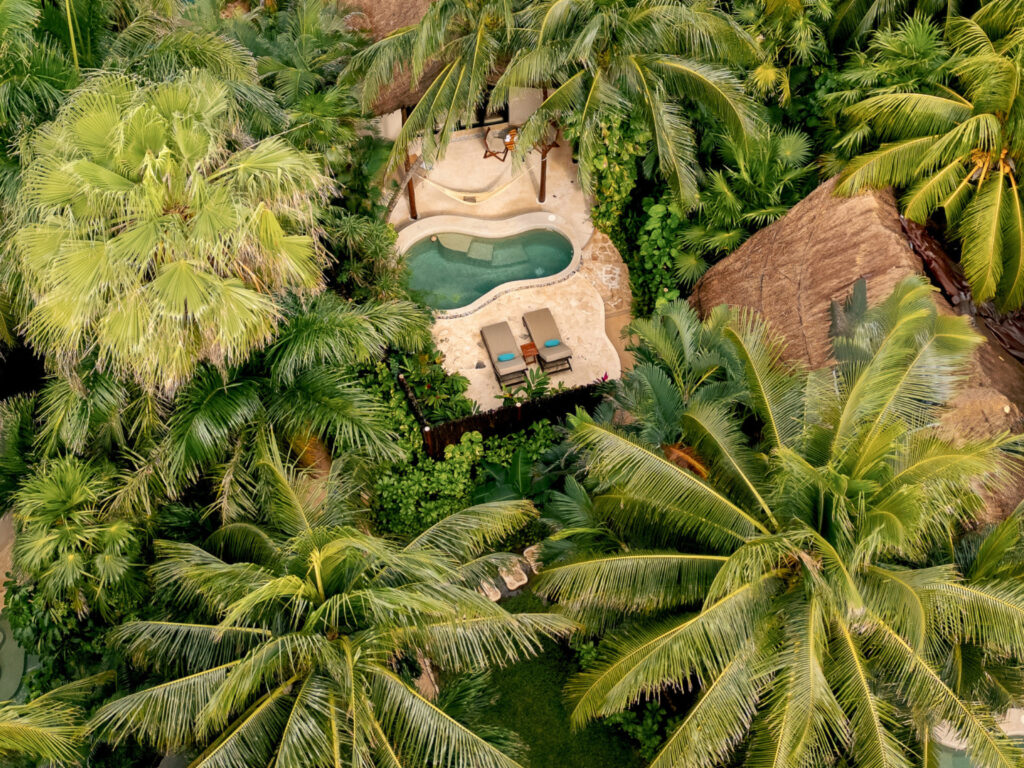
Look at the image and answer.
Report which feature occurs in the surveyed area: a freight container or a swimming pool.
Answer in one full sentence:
The one in the frame is a swimming pool.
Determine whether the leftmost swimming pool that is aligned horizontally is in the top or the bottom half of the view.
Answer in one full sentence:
You can find the leftmost swimming pool that is aligned horizontally in the top half.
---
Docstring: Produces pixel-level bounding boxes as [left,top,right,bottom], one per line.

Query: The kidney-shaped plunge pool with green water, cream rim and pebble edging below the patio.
[388,210,593,321]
